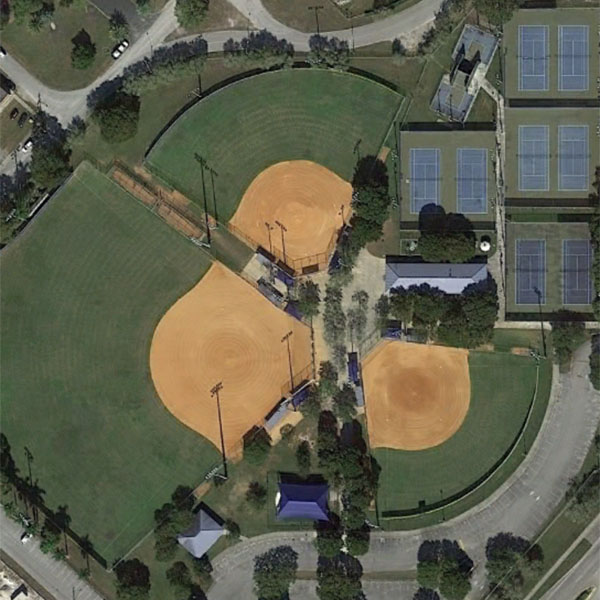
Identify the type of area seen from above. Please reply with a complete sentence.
What you see here is a sports ground.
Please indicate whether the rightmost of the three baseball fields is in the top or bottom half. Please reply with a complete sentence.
The rightmost of the three baseball fields sits in the bottom half of the picture.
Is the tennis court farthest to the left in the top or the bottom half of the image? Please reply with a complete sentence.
It is in the top half that the tennis court farthest to the left appears.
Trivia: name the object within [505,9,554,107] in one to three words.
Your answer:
tennis court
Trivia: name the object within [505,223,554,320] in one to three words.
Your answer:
tennis court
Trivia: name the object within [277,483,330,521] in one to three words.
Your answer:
building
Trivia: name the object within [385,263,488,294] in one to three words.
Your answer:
building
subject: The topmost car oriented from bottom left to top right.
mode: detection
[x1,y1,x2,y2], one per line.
[114,41,128,55]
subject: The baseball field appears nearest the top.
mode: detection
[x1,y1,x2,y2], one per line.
[147,69,404,276]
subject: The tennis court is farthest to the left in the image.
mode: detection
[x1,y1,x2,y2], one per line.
[400,131,448,229]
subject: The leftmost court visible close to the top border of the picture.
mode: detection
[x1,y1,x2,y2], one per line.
[430,23,499,122]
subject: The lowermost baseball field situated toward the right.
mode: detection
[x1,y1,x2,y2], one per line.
[363,341,538,517]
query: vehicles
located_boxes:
[10,107,19,120]
[21,534,32,543]
[114,41,128,55]
[22,139,35,152]
[335,0,349,6]
[0,48,8,58]
[19,113,28,126]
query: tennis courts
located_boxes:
[505,9,554,107]
[505,108,554,206]
[400,131,448,229]
[554,9,600,107]
[448,131,496,229]
[554,108,600,206]
[505,223,554,320]
[554,223,596,321]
